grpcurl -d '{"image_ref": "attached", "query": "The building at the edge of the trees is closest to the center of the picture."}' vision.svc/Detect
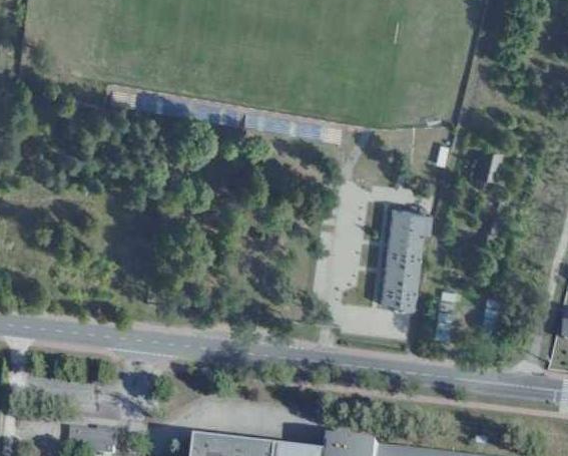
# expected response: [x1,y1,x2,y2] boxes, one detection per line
[380,210,434,316]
